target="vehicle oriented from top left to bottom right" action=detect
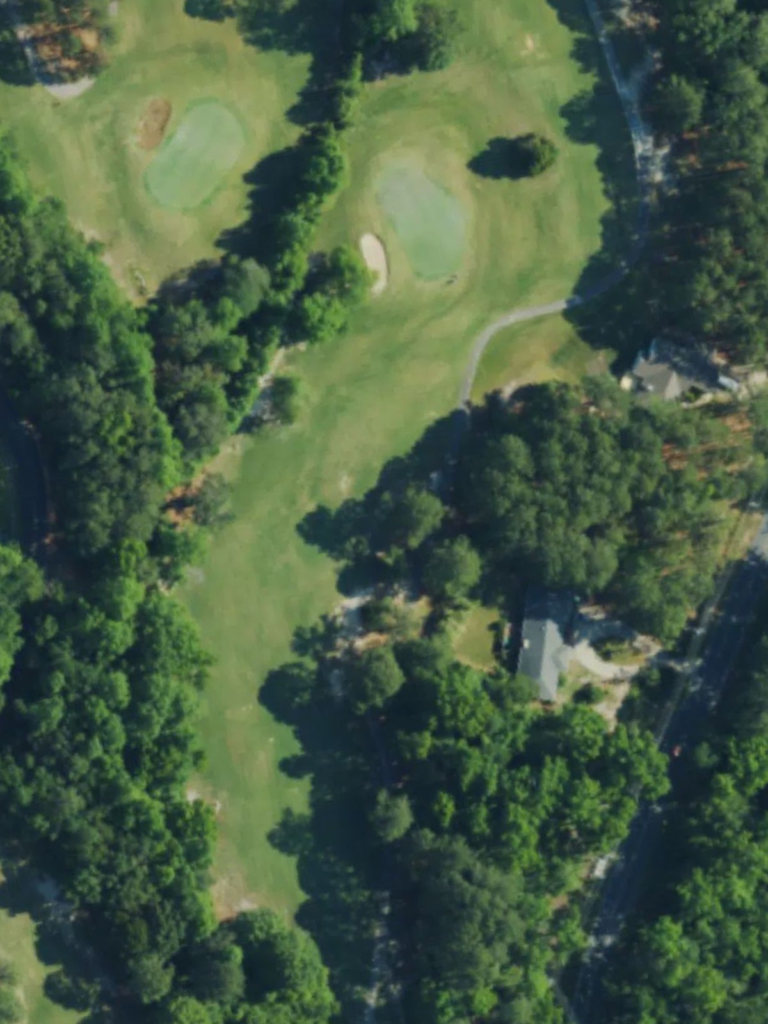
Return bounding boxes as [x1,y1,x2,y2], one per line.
[718,374,738,391]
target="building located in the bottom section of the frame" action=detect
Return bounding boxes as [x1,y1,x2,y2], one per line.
[519,589,575,702]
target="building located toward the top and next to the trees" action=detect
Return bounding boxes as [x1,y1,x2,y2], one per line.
[634,340,720,401]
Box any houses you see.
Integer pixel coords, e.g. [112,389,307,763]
[634,340,720,401]
[519,589,575,702]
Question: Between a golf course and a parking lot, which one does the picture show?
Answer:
golf course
